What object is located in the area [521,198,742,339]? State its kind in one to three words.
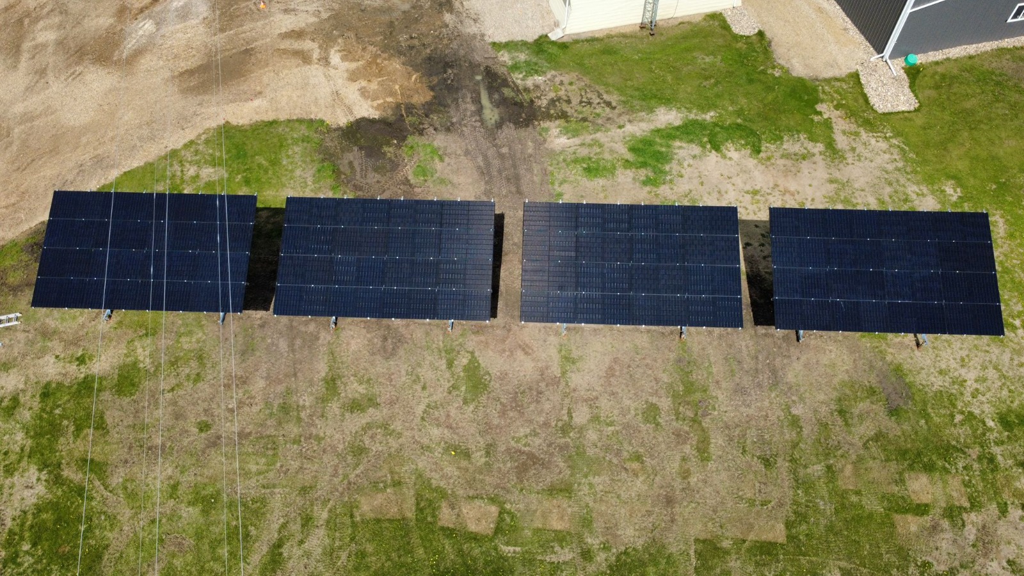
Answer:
solar array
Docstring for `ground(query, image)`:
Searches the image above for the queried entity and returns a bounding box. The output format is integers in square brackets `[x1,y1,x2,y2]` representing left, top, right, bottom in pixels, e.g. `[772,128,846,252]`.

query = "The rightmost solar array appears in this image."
[769,204,1003,346]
